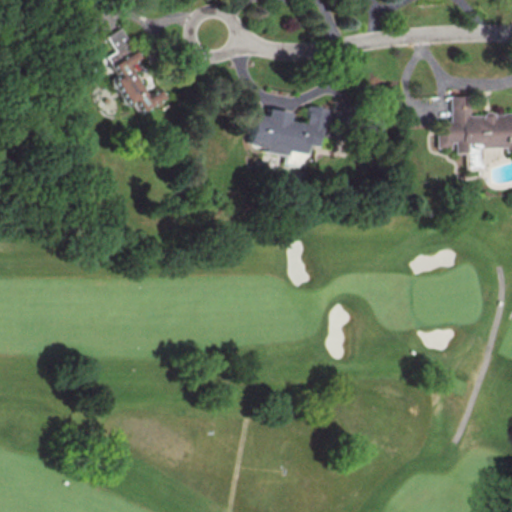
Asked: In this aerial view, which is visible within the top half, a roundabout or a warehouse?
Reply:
roundabout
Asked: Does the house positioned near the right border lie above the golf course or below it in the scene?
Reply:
above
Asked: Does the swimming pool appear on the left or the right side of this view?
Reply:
right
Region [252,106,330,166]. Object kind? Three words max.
house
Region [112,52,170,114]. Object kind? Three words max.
house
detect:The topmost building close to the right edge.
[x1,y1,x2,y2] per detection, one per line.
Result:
[437,96,512,156]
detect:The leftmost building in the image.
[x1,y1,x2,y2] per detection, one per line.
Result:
[106,30,132,69]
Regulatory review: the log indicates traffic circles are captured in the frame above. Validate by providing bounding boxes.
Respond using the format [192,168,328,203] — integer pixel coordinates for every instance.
[182,6,275,64]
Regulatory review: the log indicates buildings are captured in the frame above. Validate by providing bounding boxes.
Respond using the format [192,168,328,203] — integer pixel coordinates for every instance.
[437,96,512,156]
[252,106,330,166]
[112,52,170,114]
[106,30,132,69]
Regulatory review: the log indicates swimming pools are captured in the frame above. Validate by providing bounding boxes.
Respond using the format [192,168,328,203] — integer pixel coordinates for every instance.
[490,162,512,186]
